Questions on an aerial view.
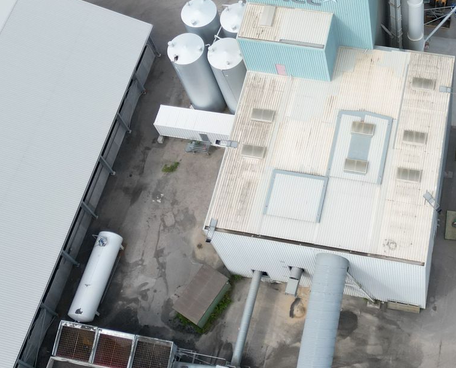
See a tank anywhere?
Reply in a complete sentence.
Yes, a tank is visible in the scene.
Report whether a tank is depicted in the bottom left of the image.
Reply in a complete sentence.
Yes, you'll find a tank in the bottom left of the image.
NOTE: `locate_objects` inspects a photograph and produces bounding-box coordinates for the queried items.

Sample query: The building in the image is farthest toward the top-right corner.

[202,0,456,319]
